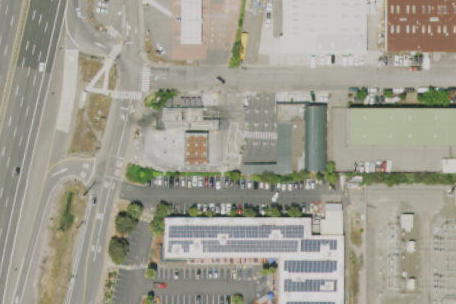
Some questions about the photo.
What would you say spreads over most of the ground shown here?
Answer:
paved ground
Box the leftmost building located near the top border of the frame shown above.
[280,0,368,53]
